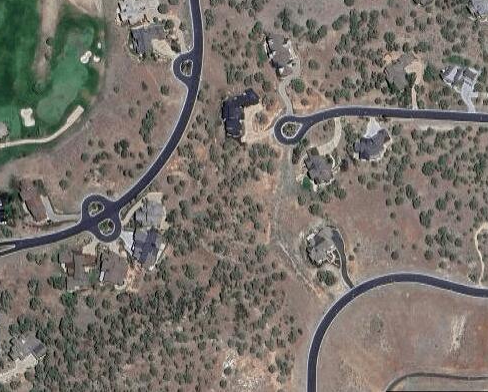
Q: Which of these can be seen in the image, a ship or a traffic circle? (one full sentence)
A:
The image shows a traffic circle.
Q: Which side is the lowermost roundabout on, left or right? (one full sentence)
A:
It is on the left.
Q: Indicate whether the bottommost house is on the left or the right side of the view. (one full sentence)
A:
The bottommost house is on the left side of the image.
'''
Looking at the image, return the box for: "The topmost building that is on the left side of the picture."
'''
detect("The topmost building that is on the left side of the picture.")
[117,0,160,24]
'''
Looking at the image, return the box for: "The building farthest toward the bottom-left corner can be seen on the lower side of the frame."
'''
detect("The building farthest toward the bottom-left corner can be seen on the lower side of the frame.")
[10,330,48,361]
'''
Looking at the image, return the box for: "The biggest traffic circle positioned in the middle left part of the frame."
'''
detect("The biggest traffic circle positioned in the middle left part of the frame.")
[72,193,127,242]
